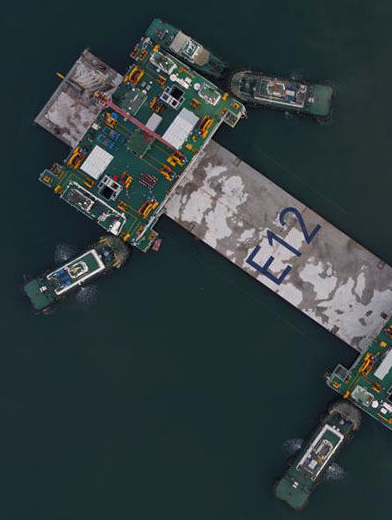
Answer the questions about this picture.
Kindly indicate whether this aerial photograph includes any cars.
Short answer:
No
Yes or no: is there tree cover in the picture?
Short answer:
No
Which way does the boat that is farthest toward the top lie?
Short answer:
on a diagonal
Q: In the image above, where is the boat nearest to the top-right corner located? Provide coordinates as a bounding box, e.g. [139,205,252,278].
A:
[228,66,336,120]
